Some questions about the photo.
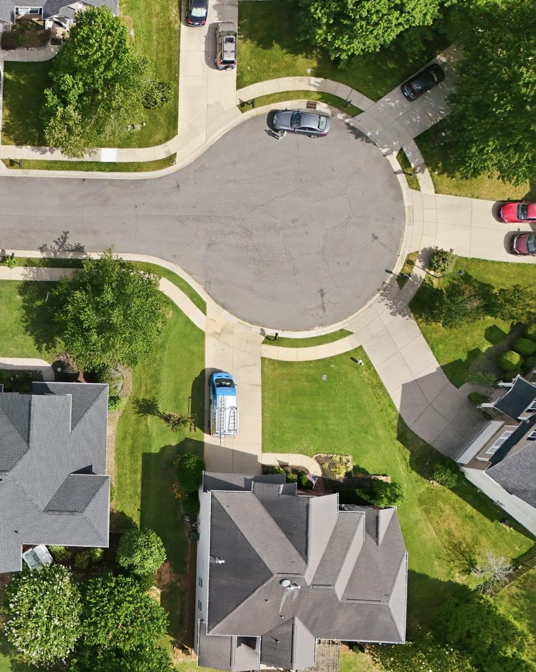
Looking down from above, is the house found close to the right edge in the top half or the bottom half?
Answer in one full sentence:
Seen from above, the house found close to the right edge lies in the bottom half of the view.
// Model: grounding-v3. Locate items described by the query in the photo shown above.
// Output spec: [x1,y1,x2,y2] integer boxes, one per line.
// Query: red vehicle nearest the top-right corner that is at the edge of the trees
[495,200,536,224]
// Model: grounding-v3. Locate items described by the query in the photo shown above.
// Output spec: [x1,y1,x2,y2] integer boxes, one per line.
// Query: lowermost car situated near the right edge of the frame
[507,232,536,257]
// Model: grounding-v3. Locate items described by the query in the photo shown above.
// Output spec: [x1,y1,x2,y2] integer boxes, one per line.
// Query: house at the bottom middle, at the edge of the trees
[192,471,408,671]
